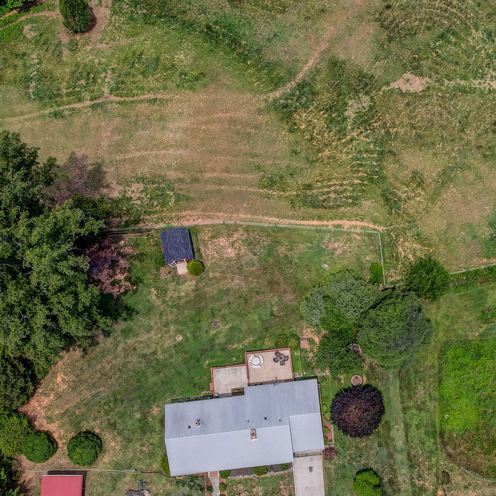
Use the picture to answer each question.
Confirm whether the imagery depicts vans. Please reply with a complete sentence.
No, no van can be seen from above.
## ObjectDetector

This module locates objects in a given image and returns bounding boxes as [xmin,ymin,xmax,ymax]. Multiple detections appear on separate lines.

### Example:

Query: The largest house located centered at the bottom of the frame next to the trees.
[162,378,325,477]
